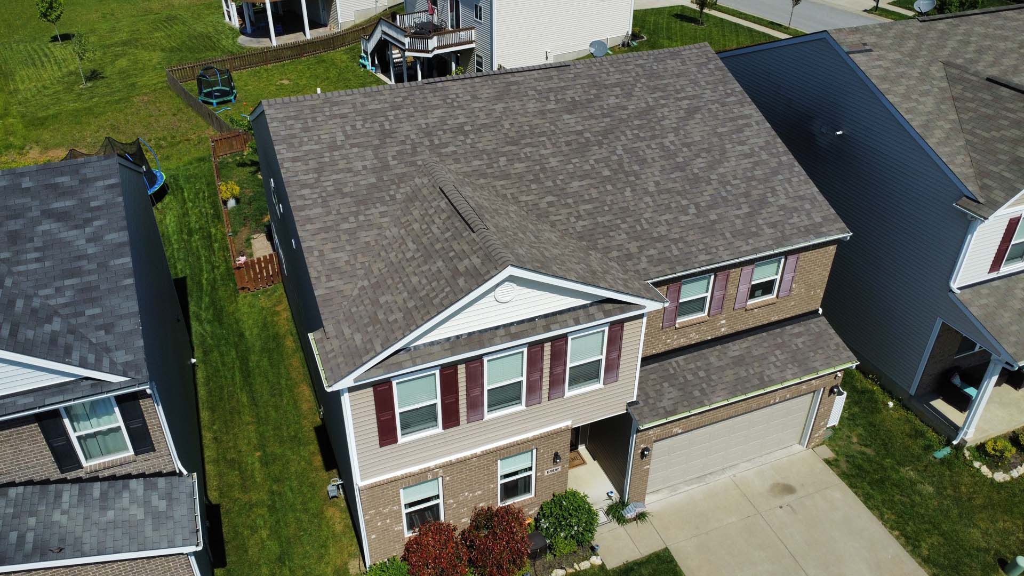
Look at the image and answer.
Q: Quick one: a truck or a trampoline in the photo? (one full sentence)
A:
There is a trampoline in the scene.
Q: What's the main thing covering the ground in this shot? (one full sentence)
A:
The bulk of the photo consists of buildings.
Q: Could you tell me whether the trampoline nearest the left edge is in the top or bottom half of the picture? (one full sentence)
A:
You can find the trampoline nearest the left edge in the top half.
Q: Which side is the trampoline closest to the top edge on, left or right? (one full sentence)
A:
The trampoline closest to the top edge sits on the left side.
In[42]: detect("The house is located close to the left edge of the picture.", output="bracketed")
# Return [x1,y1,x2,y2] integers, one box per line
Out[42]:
[0,150,212,576]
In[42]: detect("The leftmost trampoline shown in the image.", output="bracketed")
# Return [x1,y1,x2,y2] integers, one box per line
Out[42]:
[59,128,170,211]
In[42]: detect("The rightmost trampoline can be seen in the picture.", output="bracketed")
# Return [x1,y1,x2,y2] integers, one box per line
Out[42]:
[193,66,237,107]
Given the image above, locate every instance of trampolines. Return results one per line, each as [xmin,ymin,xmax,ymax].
[59,128,170,211]
[193,66,237,107]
